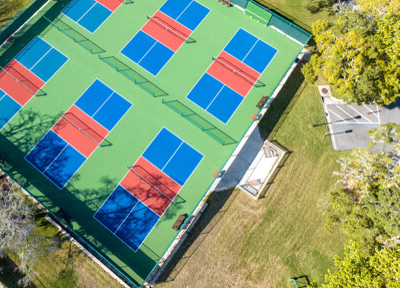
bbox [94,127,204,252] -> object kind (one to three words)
sports court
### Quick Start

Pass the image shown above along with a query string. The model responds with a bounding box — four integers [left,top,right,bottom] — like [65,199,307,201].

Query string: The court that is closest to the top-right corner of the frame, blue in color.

[187,28,278,124]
